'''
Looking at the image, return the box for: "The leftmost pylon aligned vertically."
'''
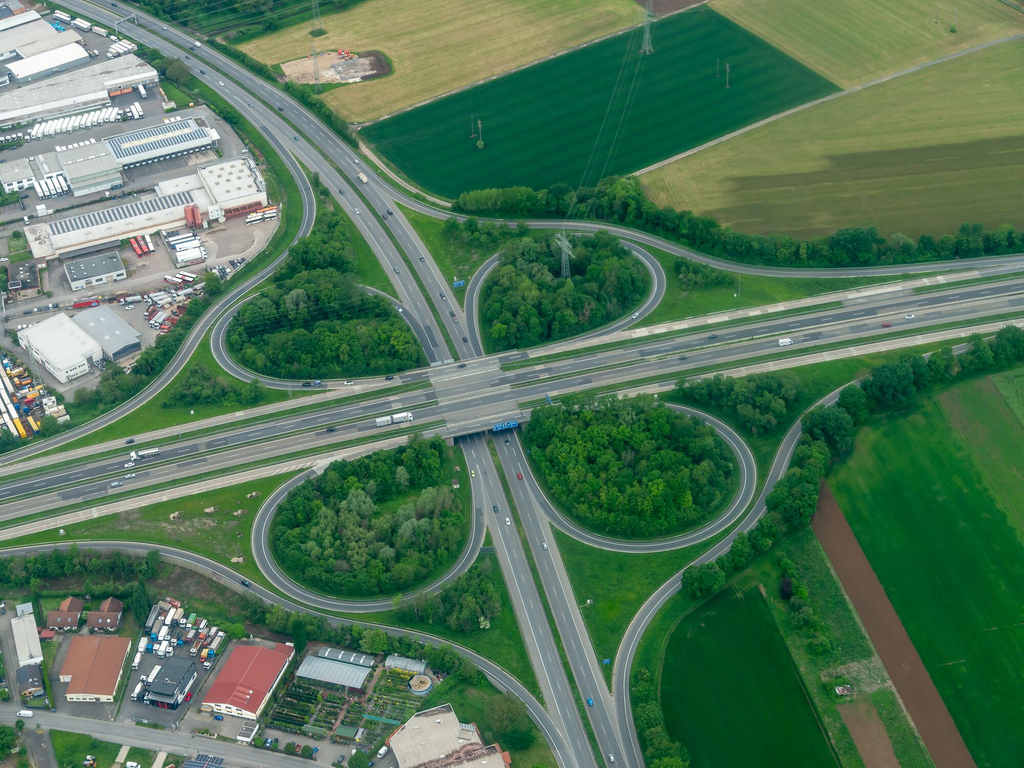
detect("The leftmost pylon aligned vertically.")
[23,333,47,407]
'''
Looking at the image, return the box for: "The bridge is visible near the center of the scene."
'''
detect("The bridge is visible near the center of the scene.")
[413,347,527,442]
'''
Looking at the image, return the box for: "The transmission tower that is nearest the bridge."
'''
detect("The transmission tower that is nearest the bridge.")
[548,228,582,281]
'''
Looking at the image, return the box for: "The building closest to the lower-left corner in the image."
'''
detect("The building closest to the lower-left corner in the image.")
[16,662,45,702]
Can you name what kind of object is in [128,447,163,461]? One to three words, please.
vehicle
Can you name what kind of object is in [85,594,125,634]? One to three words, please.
house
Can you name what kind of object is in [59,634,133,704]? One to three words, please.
building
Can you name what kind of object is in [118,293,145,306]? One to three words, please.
vehicle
